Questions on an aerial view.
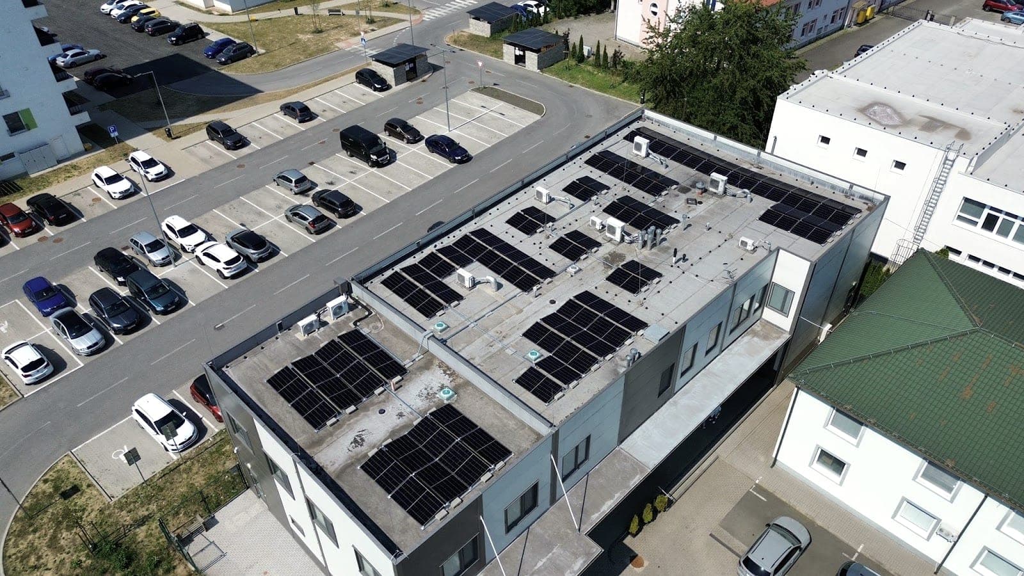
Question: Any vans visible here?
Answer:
Yes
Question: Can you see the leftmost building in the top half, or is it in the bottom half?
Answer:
top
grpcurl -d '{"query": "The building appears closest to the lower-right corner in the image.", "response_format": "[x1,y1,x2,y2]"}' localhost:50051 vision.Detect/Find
[772,246,1024,576]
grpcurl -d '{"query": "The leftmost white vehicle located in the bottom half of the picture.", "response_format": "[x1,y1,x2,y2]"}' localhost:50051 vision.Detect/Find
[0,338,58,389]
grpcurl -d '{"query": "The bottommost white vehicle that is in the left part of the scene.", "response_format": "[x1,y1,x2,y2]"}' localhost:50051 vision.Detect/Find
[129,389,201,454]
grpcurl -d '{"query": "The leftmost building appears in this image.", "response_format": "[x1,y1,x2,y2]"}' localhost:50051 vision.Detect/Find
[0,0,108,185]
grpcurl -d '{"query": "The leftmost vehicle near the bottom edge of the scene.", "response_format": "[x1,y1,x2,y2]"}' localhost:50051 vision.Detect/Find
[728,508,814,576]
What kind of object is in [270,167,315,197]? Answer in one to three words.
car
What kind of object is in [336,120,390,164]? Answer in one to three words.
van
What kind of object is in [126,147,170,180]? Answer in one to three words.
car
